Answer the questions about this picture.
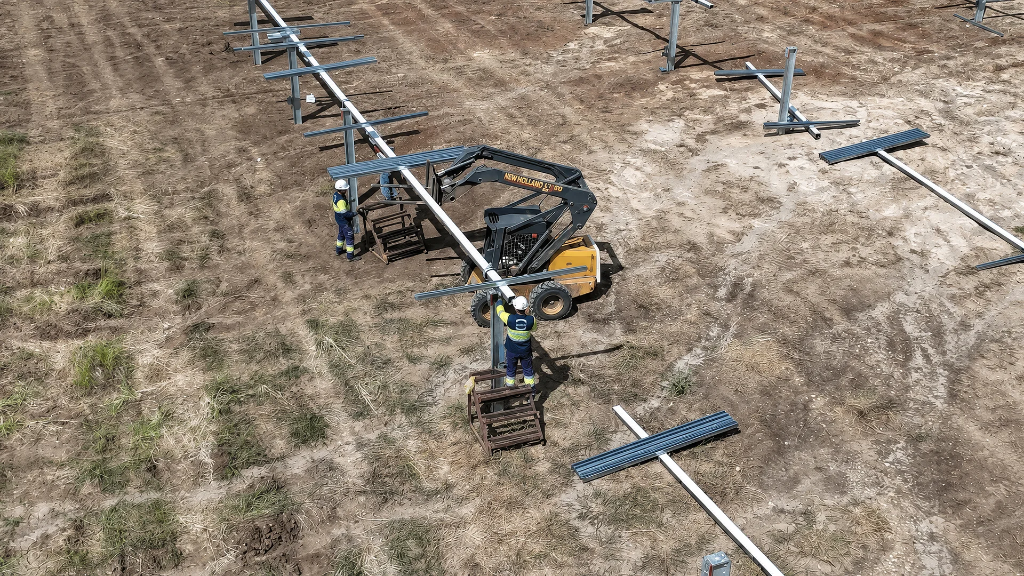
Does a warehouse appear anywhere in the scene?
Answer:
No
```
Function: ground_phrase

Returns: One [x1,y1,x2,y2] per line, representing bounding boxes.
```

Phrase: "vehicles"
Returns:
[372,142,601,328]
